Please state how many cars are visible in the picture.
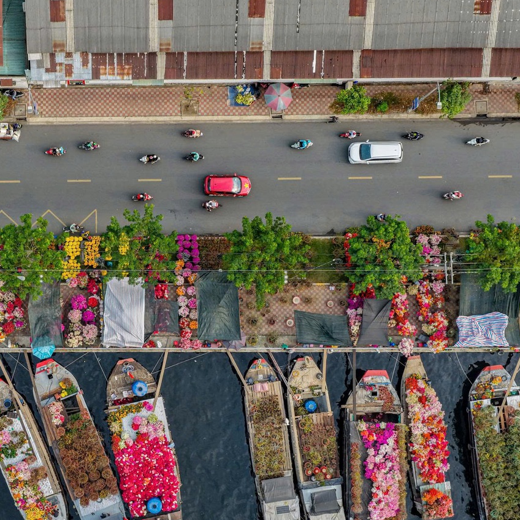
2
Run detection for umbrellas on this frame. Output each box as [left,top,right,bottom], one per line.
[222,332,244,353]
[264,84,292,113]
[31,339,55,363]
